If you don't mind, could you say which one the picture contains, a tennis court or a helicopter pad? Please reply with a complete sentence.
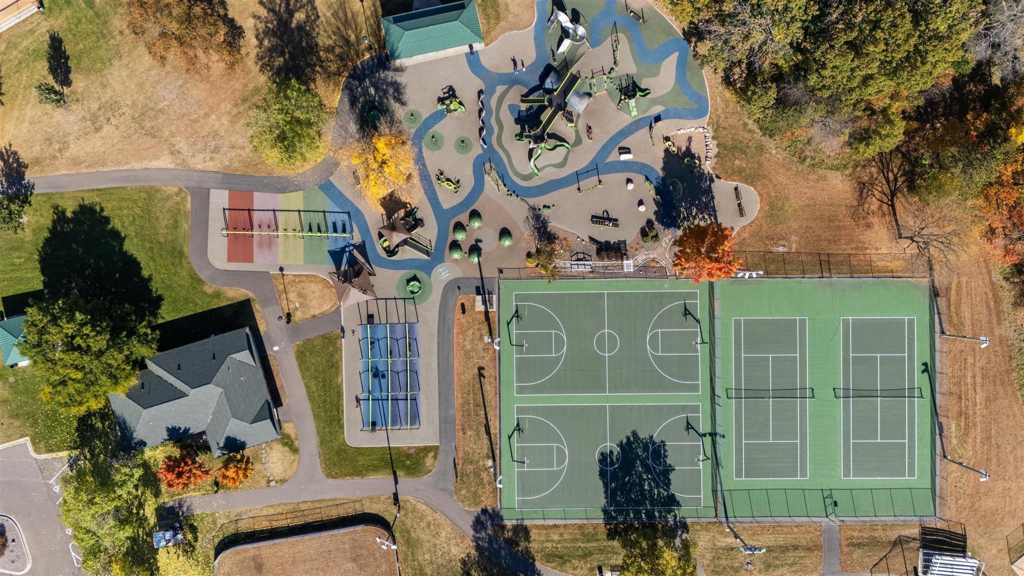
Visible in the photo is a tennis court.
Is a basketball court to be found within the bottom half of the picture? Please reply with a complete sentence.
Yes, a basketball court is visible within the bottom half of the picture.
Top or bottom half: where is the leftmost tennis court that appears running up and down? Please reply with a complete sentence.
The bottom half of the photo is where the leftmost tennis court that appears running up and down is.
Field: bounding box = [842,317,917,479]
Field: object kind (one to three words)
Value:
tennis court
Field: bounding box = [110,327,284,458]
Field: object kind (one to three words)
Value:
building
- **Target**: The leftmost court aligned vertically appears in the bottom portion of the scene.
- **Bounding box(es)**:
[733,318,809,479]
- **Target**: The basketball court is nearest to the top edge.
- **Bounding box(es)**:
[514,291,701,396]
